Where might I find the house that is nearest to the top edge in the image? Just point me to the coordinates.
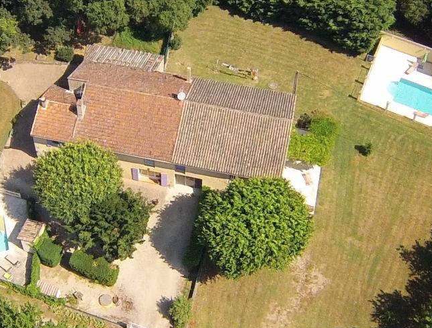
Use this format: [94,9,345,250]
[29,44,297,201]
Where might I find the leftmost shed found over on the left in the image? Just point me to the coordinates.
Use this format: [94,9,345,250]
[17,218,45,252]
